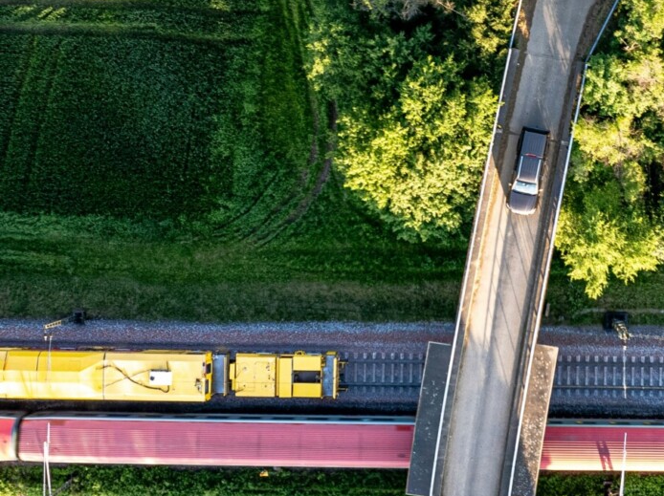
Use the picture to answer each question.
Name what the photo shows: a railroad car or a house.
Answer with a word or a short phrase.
railroad car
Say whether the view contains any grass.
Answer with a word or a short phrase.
Yes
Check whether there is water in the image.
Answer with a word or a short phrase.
No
